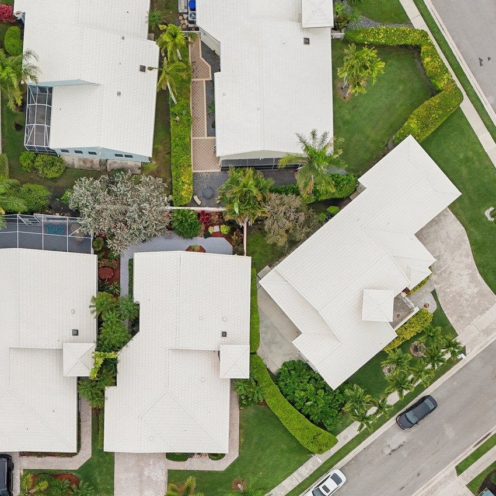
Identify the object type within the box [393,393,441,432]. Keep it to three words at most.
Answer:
car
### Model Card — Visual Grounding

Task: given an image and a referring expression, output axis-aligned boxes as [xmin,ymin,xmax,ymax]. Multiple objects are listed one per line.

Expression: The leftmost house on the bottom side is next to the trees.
[0,247,97,453]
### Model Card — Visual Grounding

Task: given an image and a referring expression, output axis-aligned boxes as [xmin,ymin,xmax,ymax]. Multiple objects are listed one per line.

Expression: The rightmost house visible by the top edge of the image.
[196,0,334,166]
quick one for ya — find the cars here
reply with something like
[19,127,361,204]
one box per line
[0,455,13,496]
[393,393,441,432]
[301,468,349,496]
